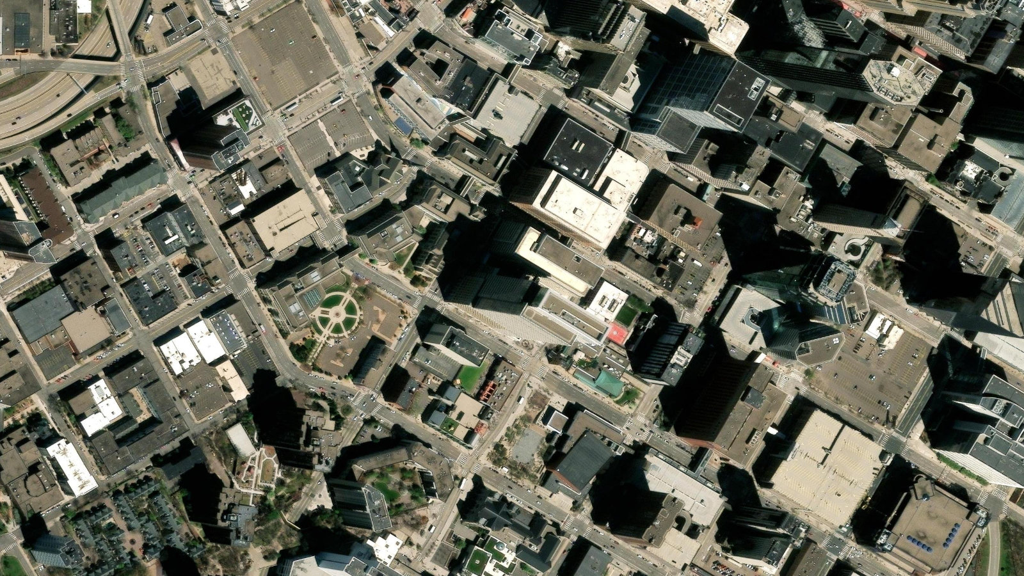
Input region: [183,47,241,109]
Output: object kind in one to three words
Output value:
building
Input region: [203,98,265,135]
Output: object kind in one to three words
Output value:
building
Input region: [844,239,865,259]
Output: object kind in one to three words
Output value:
fountain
